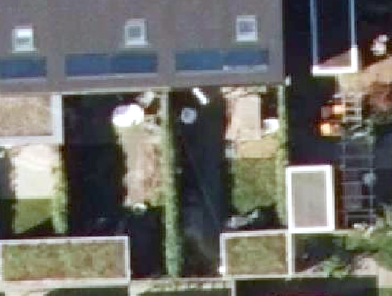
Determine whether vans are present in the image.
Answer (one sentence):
No, no van is visible in the view.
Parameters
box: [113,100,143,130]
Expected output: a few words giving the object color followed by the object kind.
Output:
white umbrella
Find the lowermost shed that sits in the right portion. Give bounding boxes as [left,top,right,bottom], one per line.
[217,232,290,276]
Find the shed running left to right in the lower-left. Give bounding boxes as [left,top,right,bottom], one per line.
[0,235,129,288]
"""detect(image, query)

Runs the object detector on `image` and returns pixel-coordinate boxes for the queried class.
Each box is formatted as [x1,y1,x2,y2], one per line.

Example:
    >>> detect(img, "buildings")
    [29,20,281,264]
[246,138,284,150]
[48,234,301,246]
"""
[286,164,335,232]
[0,0,289,145]
[311,0,358,73]
[217,232,290,276]
[0,235,129,288]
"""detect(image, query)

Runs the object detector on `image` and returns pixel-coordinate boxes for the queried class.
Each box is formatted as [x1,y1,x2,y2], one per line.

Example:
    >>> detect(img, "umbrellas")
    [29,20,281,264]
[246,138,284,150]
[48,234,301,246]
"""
[266,119,278,132]
[113,100,143,130]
